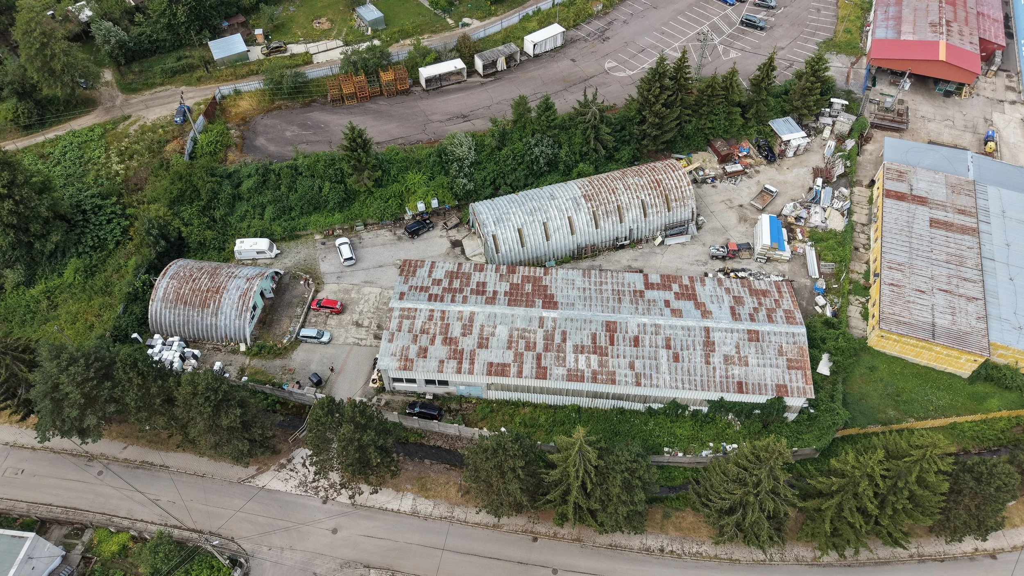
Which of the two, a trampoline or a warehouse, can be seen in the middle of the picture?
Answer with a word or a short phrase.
warehouse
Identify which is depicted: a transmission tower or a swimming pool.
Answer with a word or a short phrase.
transmission tower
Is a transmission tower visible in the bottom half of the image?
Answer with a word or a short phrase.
No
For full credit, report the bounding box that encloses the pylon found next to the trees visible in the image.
[690,21,718,86]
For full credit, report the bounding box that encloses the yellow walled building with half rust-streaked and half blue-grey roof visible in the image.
[868,136,1024,382]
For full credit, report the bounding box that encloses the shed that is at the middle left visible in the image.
[148,256,282,346]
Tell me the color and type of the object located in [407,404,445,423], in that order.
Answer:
black car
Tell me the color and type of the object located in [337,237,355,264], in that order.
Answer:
white car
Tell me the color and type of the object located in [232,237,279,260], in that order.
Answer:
white camper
